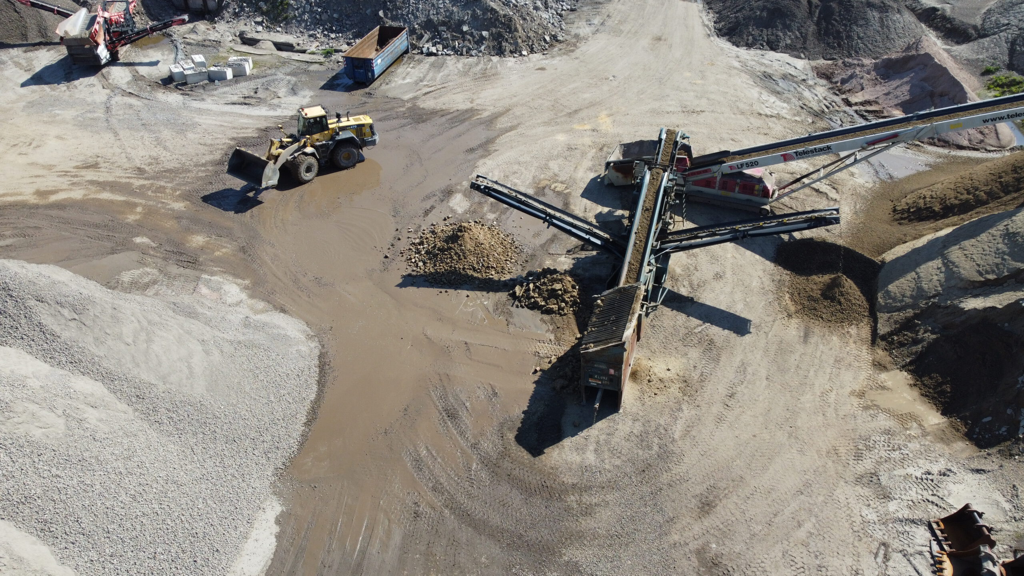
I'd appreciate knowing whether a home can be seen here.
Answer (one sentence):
No, the photo shows no home.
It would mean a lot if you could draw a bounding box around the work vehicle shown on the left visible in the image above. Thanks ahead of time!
[225,105,384,191]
